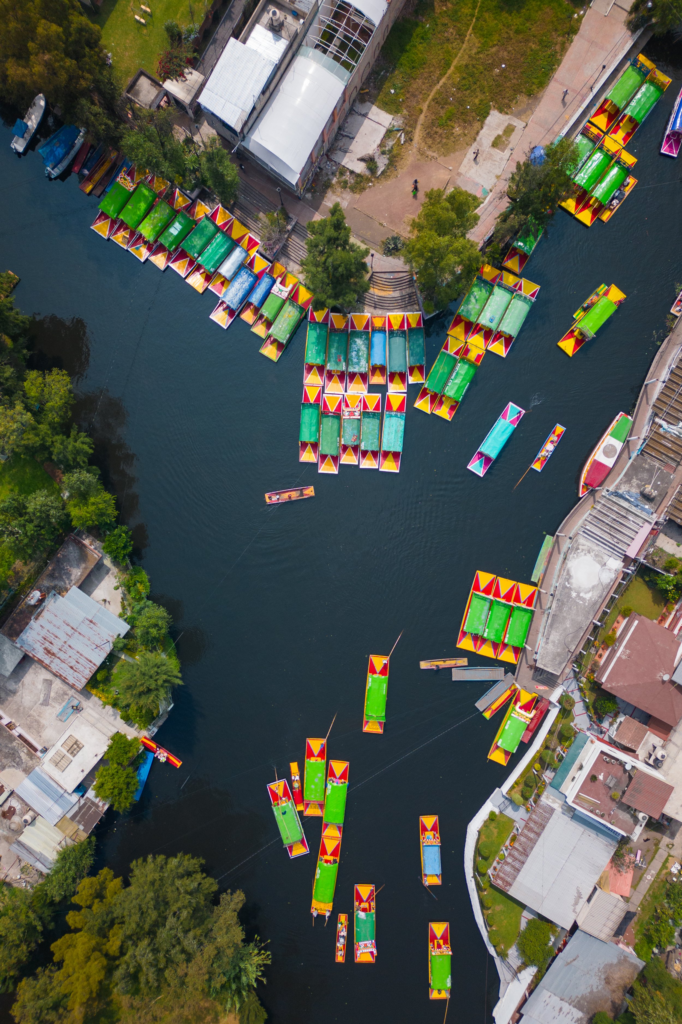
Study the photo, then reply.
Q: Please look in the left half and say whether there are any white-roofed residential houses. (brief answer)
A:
Yes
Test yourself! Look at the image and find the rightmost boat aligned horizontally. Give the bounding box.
[452,667,504,681]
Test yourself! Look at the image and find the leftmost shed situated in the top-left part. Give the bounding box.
[124,69,169,115]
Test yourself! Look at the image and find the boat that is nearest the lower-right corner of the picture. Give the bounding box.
[429,921,452,999]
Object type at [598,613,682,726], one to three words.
house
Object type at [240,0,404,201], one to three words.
building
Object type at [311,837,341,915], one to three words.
boat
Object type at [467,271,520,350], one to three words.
boat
